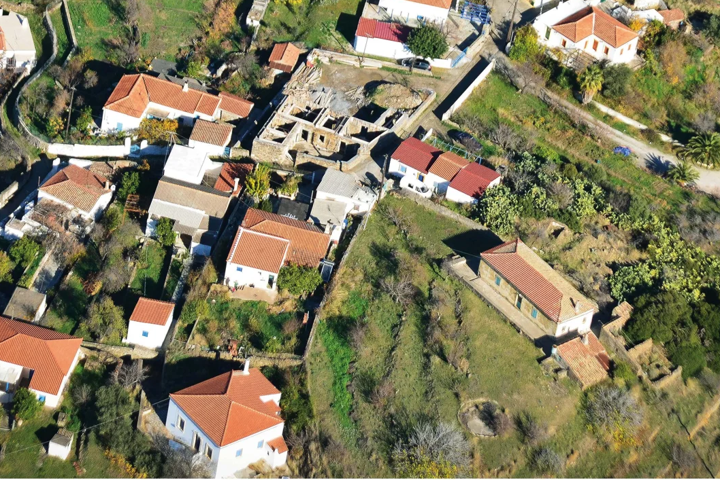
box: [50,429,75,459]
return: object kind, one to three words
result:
shed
